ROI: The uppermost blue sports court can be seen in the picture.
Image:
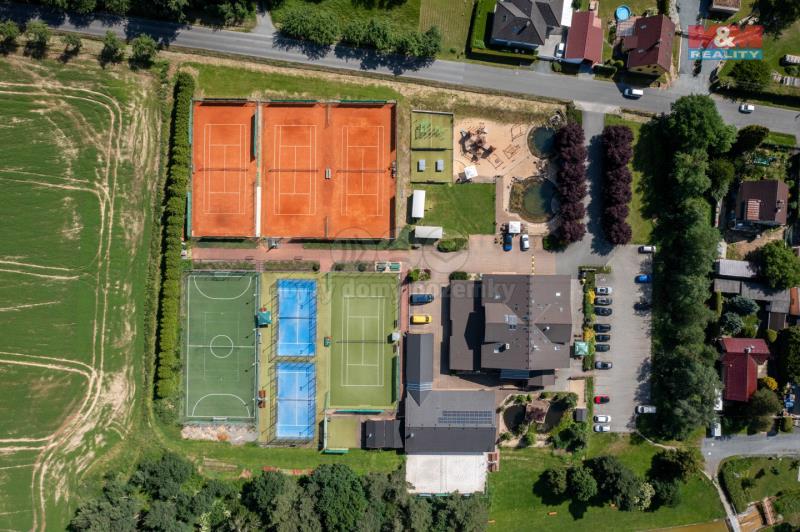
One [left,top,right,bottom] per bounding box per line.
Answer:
[272,280,316,359]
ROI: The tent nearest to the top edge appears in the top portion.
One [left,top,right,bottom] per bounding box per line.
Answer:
[412,191,425,219]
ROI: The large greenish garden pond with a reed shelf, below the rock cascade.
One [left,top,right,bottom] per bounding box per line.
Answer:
[518,174,563,223]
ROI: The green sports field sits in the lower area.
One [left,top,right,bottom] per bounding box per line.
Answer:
[182,273,258,422]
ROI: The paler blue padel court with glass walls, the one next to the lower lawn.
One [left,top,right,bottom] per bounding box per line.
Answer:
[272,362,316,444]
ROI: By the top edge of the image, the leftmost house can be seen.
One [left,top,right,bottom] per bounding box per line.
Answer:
[492,0,566,48]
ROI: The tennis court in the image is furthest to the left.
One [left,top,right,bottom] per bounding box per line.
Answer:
[191,101,255,237]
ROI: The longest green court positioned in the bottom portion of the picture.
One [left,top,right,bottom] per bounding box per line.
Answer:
[330,273,396,406]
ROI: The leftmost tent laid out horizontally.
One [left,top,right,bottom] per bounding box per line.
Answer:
[415,227,443,239]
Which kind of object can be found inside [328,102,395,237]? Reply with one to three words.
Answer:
tennis court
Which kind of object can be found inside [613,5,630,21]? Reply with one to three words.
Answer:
swimming pool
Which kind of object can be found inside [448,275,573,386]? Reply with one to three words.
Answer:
building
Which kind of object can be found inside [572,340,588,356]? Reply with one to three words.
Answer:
gazebo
